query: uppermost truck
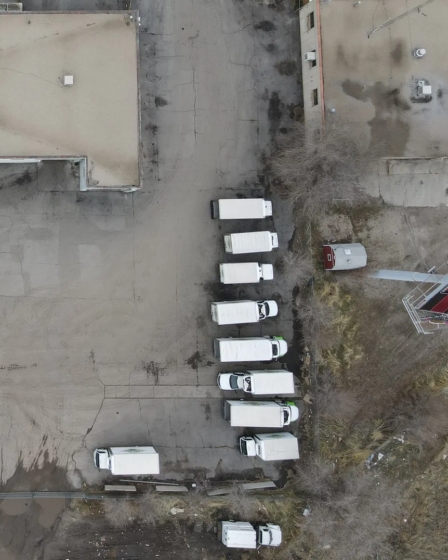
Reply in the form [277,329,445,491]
[203,198,270,221]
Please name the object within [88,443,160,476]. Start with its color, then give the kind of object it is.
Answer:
white truck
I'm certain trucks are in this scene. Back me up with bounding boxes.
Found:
[232,431,299,461]
[218,398,295,427]
[88,443,160,476]
[208,334,285,362]
[204,518,279,548]
[215,260,268,284]
[209,298,272,324]
[222,229,276,253]
[203,198,270,221]
[207,367,295,396]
